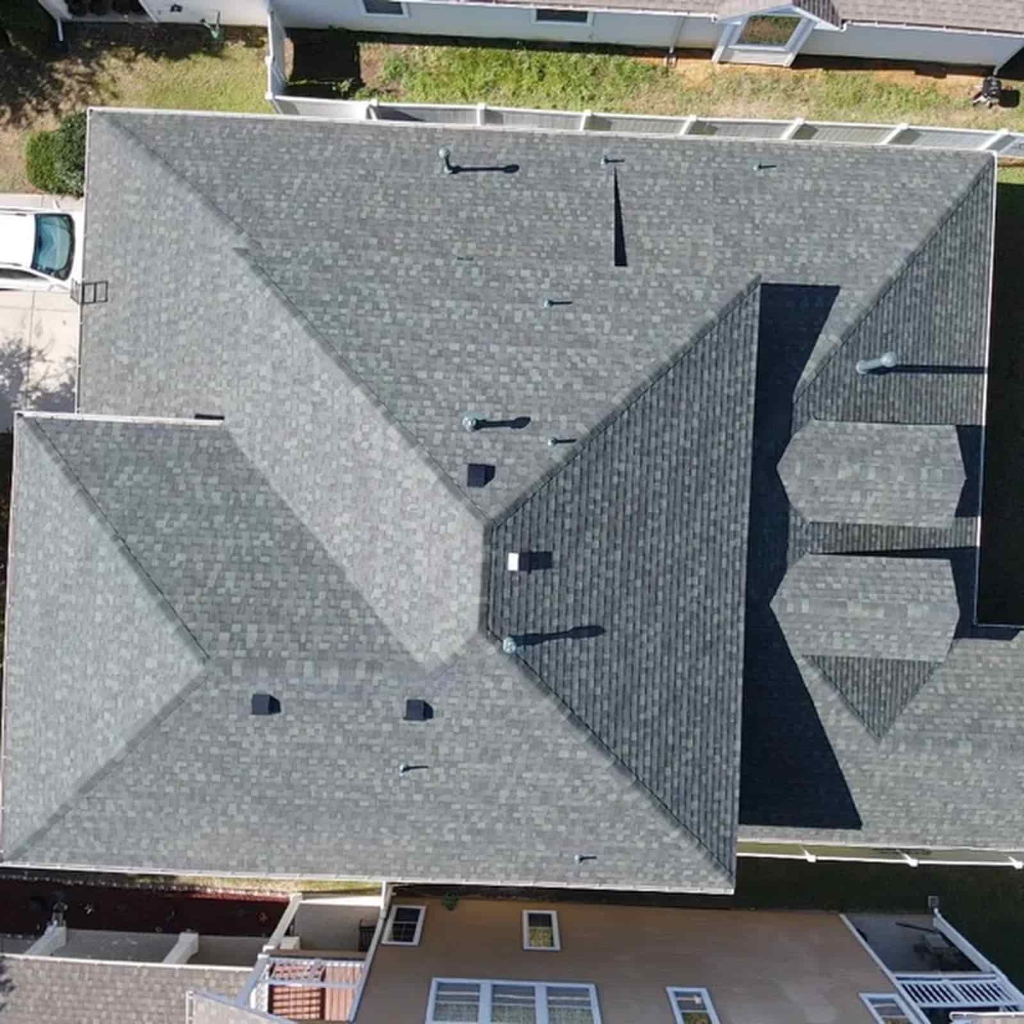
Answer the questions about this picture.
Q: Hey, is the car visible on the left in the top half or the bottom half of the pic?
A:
top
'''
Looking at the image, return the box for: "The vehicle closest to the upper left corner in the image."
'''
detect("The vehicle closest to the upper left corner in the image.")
[0,200,86,293]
